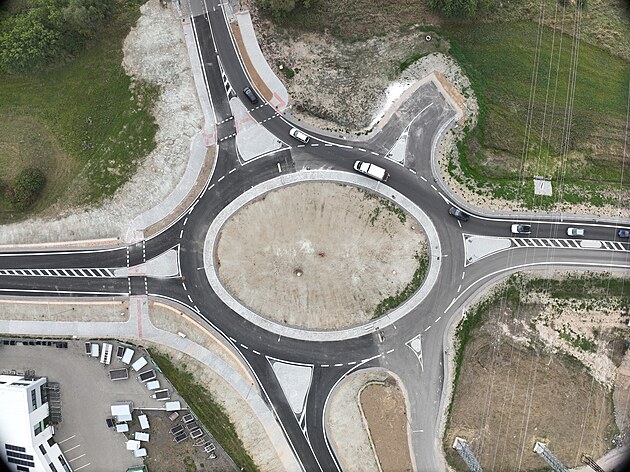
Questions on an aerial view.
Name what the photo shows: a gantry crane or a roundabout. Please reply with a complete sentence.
This aerial view contains a roundabout.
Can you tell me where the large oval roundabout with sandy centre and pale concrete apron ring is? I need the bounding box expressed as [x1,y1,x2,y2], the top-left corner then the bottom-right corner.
[180,144,463,367]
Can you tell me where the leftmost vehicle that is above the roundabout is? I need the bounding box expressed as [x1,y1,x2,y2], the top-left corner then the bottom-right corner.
[243,86,258,105]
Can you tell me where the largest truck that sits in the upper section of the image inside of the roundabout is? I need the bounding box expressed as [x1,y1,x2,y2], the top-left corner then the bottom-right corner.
[355,160,388,182]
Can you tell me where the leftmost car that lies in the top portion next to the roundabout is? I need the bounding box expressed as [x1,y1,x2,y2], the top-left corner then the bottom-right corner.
[289,128,310,144]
